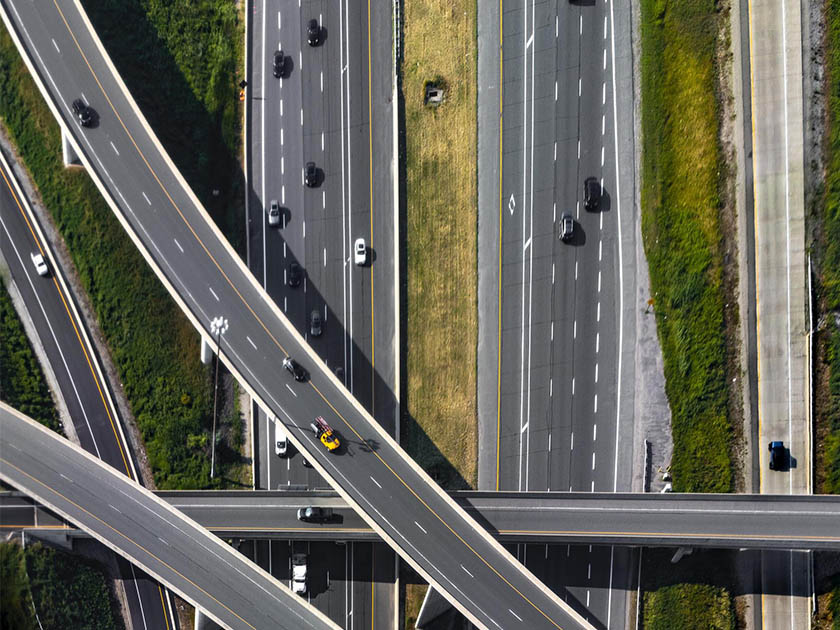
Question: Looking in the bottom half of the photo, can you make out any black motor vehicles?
Yes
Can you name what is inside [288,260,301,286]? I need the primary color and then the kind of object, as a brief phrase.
black vehicle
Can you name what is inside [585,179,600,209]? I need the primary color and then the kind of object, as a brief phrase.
black car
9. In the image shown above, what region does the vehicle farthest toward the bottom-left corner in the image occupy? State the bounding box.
[293,555,307,591]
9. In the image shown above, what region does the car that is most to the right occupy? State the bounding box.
[769,441,786,471]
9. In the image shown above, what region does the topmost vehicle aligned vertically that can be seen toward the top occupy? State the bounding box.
[307,20,320,46]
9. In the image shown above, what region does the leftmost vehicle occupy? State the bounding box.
[30,248,48,277]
